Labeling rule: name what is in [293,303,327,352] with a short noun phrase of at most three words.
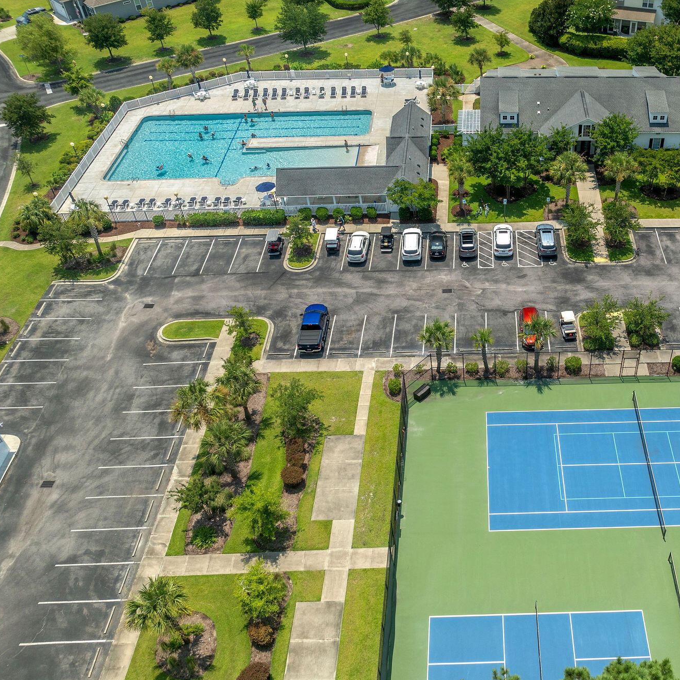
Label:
truck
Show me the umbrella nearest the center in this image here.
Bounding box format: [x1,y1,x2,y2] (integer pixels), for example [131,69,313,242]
[249,178,276,194]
